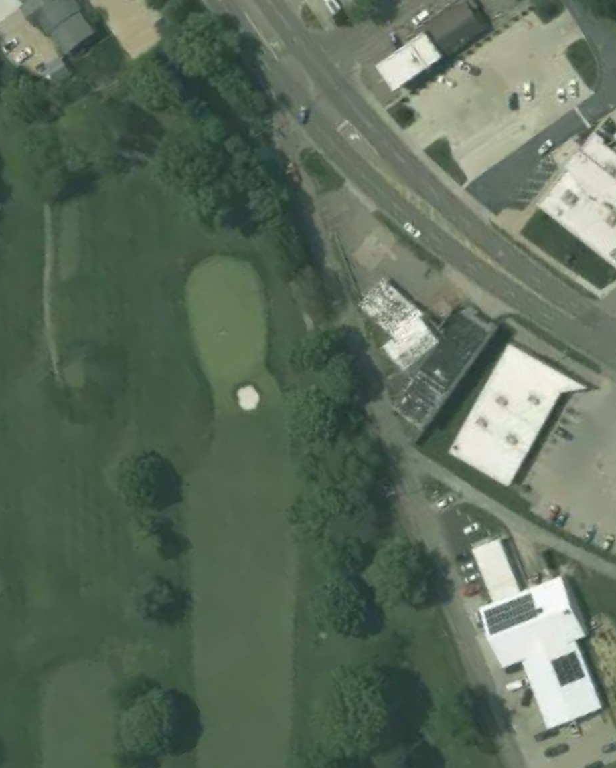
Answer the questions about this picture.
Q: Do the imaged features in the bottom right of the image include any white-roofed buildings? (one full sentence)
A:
Yes, there is a white-roofed building in the bottom right of the image.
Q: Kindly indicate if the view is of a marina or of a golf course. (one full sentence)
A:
It's a golf course.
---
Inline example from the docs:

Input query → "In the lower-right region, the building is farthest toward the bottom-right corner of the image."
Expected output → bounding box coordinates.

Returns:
[473,538,520,600]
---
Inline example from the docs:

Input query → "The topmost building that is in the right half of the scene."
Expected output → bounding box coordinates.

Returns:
[427,0,492,57]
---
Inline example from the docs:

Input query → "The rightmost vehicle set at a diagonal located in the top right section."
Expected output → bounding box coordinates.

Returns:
[537,138,553,155]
